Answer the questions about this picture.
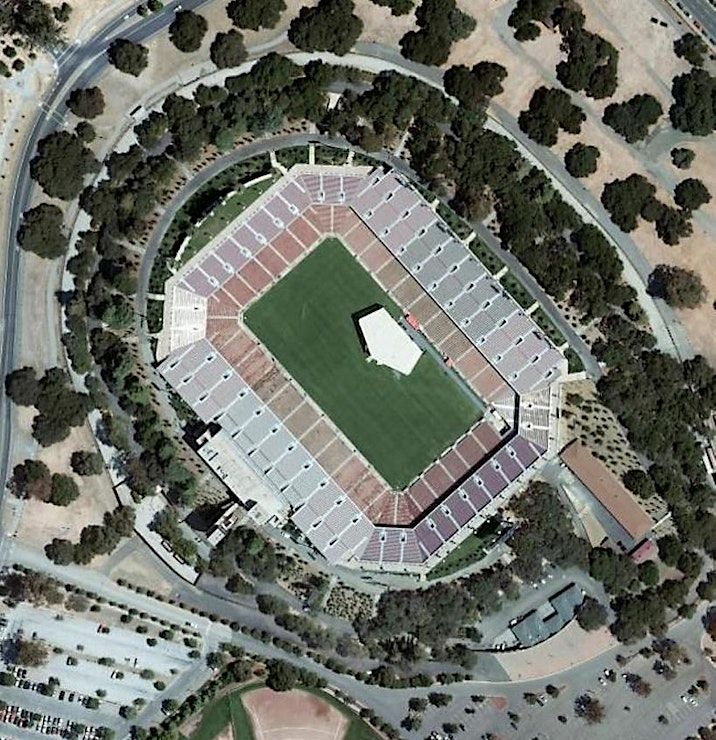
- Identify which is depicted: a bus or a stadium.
stadium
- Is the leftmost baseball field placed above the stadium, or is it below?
below it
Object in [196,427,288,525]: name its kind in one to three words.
building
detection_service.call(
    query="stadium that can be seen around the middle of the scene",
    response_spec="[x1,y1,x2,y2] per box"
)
[157,163,567,572]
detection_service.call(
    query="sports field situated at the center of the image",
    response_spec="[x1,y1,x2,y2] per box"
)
[245,239,514,489]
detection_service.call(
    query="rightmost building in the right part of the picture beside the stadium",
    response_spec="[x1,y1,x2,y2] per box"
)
[562,441,655,542]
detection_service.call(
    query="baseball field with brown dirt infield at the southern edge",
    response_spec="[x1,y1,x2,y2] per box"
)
[197,683,371,740]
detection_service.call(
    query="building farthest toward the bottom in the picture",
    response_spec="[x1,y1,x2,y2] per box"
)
[488,582,586,652]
